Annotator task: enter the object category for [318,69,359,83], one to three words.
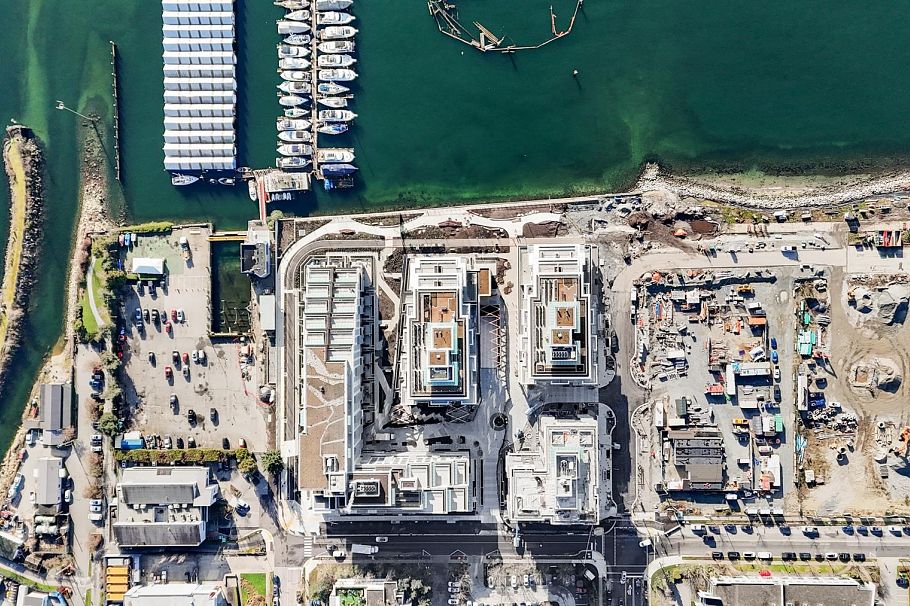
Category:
boat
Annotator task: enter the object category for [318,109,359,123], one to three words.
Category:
boat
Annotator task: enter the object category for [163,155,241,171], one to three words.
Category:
shed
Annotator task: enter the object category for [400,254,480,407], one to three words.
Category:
building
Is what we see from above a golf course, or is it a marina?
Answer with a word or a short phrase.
marina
